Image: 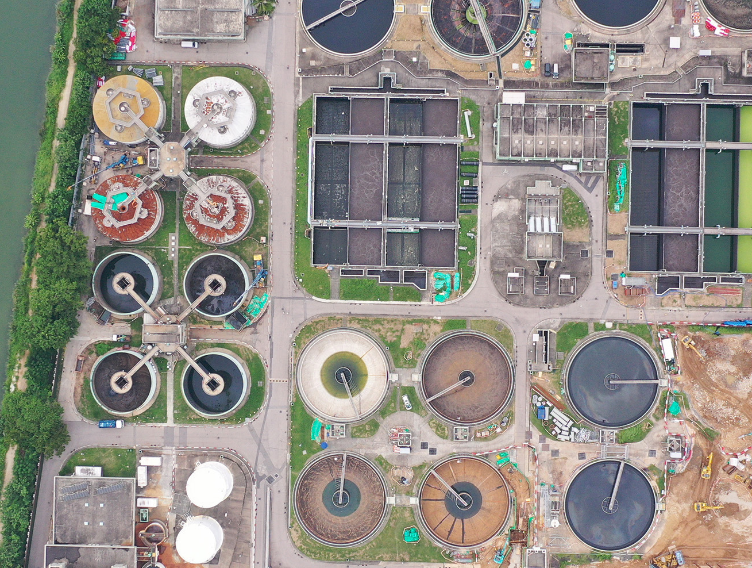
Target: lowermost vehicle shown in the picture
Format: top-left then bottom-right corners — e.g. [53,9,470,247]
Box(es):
[493,537,508,562]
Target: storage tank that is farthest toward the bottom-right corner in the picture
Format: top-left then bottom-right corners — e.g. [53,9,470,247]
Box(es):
[559,453,665,556]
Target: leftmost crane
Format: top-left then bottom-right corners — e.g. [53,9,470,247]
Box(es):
[67,154,144,190]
